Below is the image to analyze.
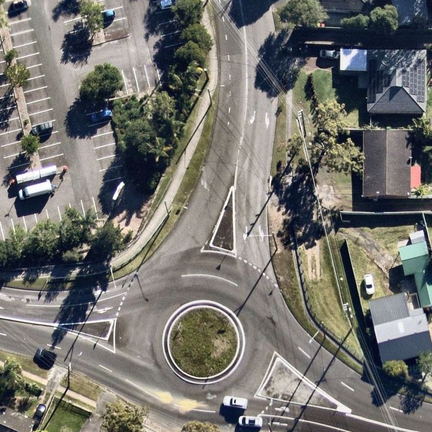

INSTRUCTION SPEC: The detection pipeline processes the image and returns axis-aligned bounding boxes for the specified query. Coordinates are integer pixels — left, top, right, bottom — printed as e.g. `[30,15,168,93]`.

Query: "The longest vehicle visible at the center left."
[19,178,54,201]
